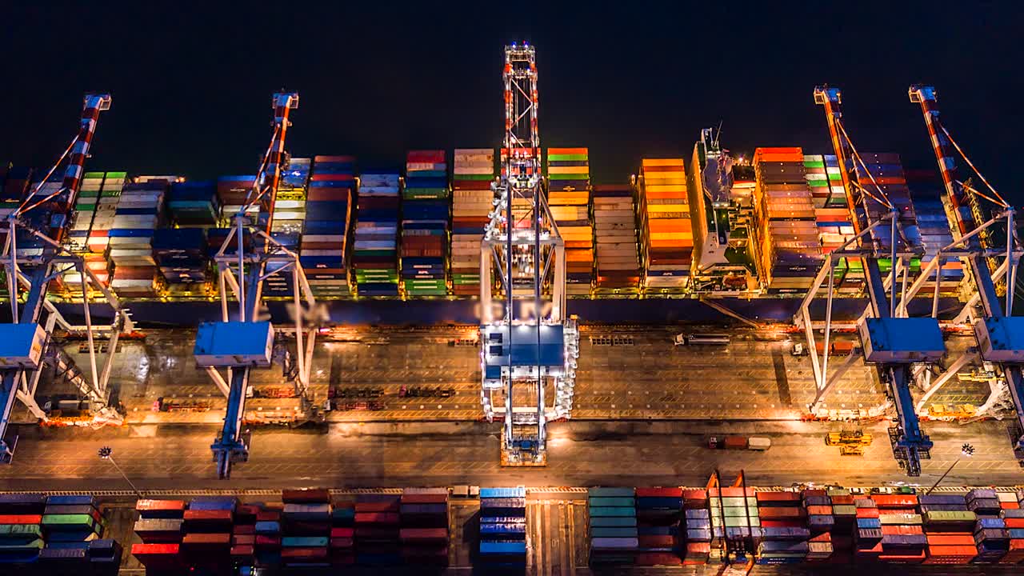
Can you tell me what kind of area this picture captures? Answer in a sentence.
What you see here is a port.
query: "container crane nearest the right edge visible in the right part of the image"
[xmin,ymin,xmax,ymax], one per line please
[898,86,1024,481]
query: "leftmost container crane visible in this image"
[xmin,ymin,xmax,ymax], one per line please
[0,86,144,481]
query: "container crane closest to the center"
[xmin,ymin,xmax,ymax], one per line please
[467,47,578,465]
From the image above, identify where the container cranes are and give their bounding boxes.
[898,86,1024,481]
[467,47,578,465]
[185,86,334,481]
[0,86,144,481]
[781,86,947,481]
